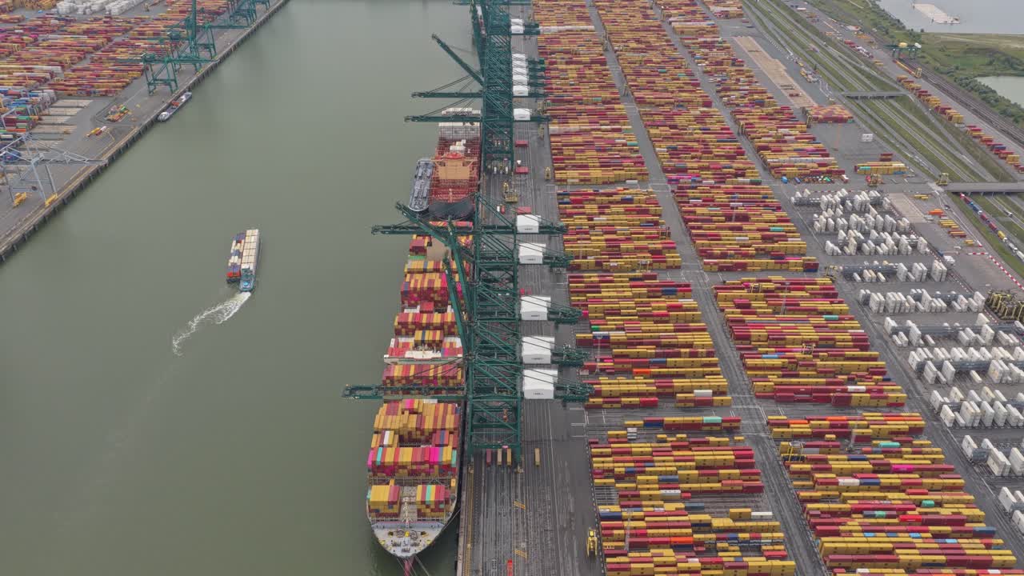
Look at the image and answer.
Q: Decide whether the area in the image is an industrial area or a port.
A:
port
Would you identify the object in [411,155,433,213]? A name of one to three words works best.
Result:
ship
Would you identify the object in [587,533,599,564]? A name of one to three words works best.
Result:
vehicle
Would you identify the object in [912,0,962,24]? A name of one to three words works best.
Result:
ship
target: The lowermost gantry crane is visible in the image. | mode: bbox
[334,341,601,473]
